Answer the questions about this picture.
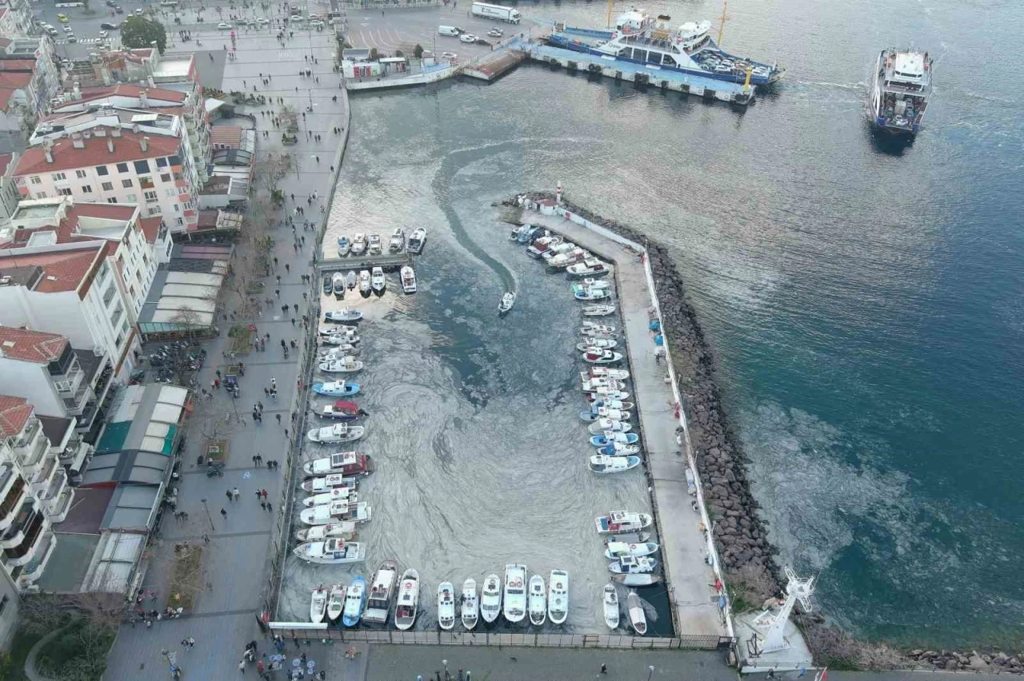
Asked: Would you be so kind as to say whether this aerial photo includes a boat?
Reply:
Yes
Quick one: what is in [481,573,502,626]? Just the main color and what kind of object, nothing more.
white boat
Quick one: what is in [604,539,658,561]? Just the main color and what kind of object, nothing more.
white boat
